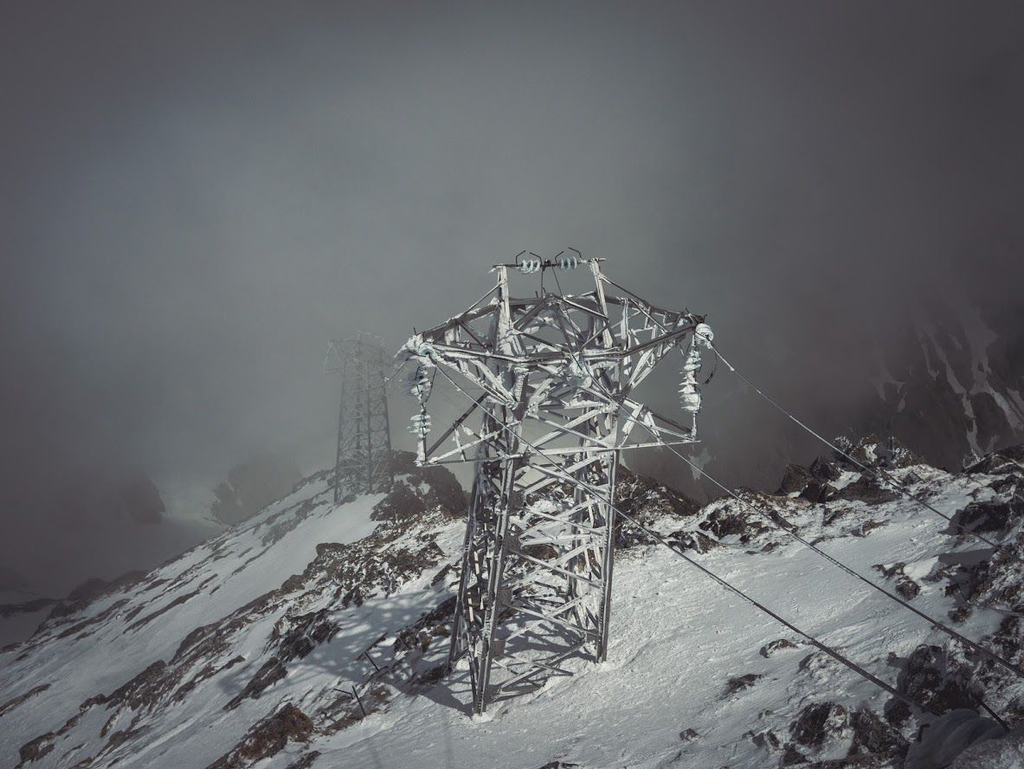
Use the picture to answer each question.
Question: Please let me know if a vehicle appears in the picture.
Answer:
No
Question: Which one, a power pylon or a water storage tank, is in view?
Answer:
power pylon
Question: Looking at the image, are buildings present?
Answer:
No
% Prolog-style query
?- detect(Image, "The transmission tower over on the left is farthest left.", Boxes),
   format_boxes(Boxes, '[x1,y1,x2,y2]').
[324,332,394,495]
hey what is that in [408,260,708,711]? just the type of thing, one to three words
pylon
